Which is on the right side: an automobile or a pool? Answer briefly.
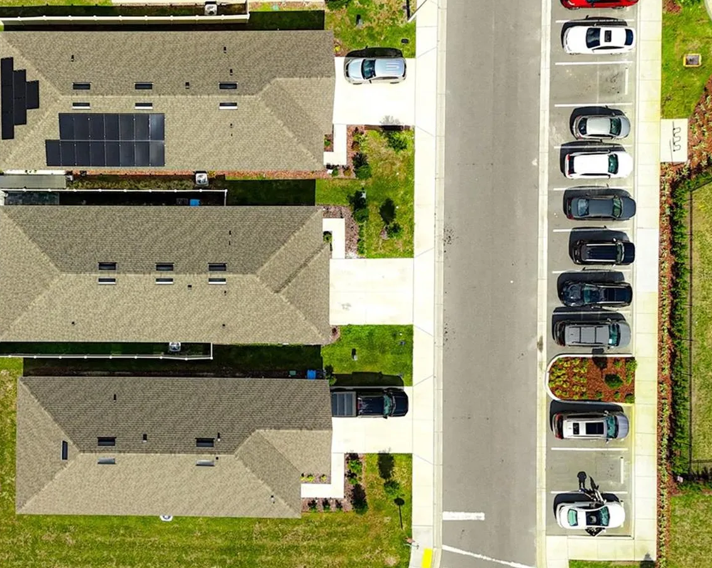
automobile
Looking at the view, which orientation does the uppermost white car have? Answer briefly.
horizontally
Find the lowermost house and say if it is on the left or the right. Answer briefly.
left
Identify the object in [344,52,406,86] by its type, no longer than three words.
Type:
car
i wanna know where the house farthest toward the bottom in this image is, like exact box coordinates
[15,377,337,517]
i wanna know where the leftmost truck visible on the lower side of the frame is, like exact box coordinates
[334,387,408,424]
